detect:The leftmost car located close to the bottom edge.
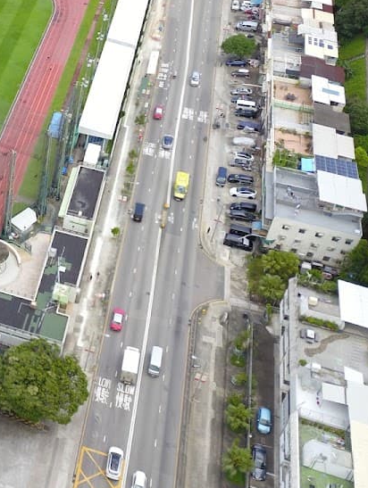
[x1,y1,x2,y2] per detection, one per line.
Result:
[106,445,125,480]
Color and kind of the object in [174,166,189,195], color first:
yellow vehicle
